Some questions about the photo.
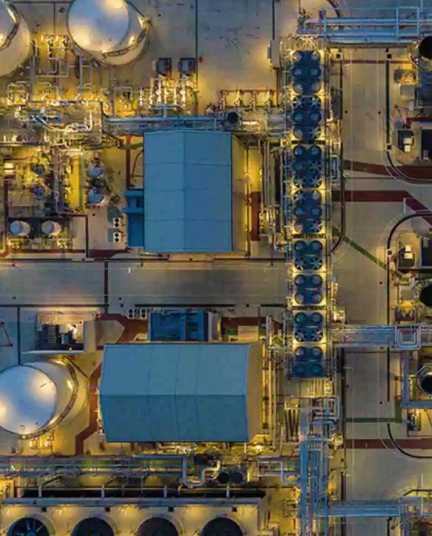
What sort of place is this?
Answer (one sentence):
It's an industrial area.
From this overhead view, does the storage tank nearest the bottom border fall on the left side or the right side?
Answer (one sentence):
You can find the storage tank nearest the bottom border on the left side of the picture.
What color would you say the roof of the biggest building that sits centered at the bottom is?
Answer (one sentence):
The roof over the biggest building that sits centered at the bottom appears blue.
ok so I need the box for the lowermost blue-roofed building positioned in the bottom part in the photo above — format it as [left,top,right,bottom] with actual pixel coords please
[97,343,265,450]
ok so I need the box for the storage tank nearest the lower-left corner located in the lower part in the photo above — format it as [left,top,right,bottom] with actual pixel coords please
[0,357,89,441]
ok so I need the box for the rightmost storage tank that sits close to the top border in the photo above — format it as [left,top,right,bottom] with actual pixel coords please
[65,0,152,70]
